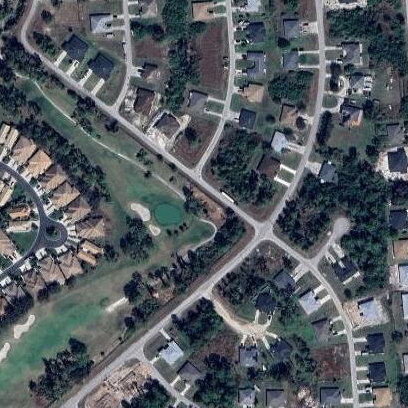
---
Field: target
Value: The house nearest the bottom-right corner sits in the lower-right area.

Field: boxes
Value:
[374,387,391,406]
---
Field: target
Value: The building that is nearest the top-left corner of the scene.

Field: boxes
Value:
[61,31,90,58]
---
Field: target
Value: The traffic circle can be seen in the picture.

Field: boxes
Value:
[39,219,67,248]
